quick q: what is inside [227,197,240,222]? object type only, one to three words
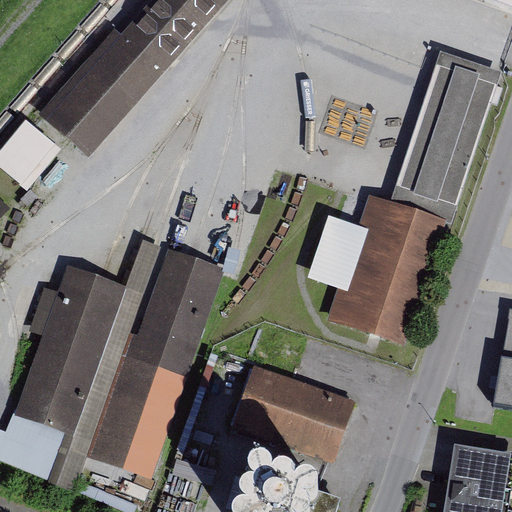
vehicle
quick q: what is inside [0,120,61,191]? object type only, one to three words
shed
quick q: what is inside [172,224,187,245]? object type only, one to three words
vehicle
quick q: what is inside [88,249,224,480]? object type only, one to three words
building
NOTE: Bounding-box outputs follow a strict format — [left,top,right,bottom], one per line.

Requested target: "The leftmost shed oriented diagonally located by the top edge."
[40,0,230,156]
